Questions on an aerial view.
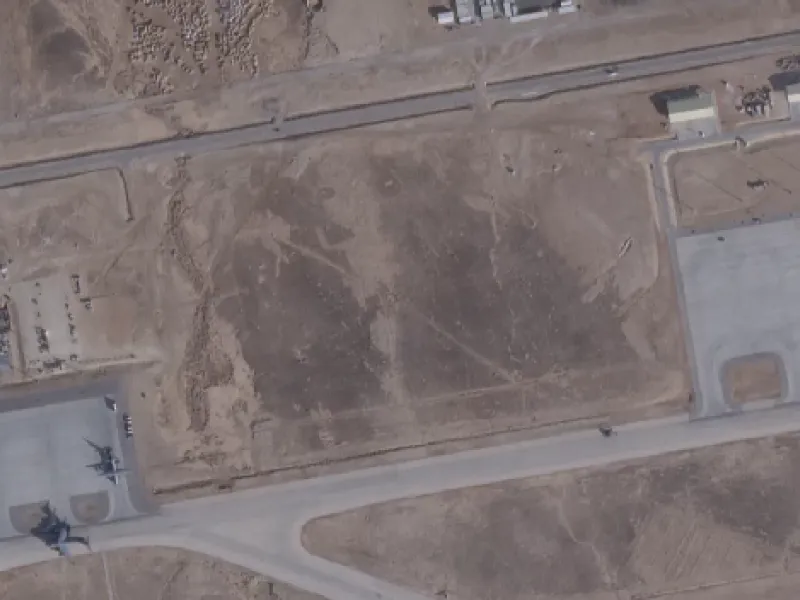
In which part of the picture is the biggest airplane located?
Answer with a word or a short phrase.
bottom left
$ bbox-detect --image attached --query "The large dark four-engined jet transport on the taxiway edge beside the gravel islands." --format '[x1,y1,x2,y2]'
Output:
[36,502,85,560]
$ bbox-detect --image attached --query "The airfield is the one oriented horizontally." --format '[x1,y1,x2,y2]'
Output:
[0,165,800,600]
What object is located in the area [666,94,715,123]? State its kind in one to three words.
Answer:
hangar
